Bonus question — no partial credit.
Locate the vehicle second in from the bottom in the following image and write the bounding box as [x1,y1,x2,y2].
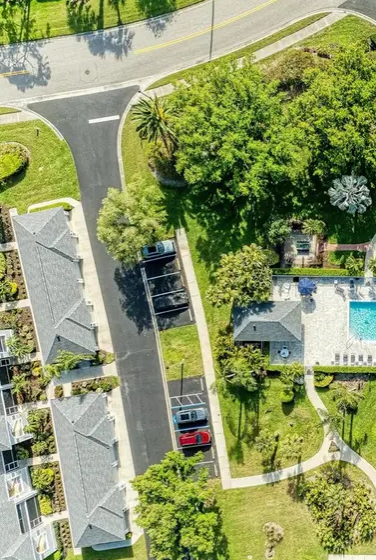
[175,407,208,423]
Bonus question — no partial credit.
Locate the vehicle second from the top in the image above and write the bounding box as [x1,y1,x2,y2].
[155,295,189,312]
